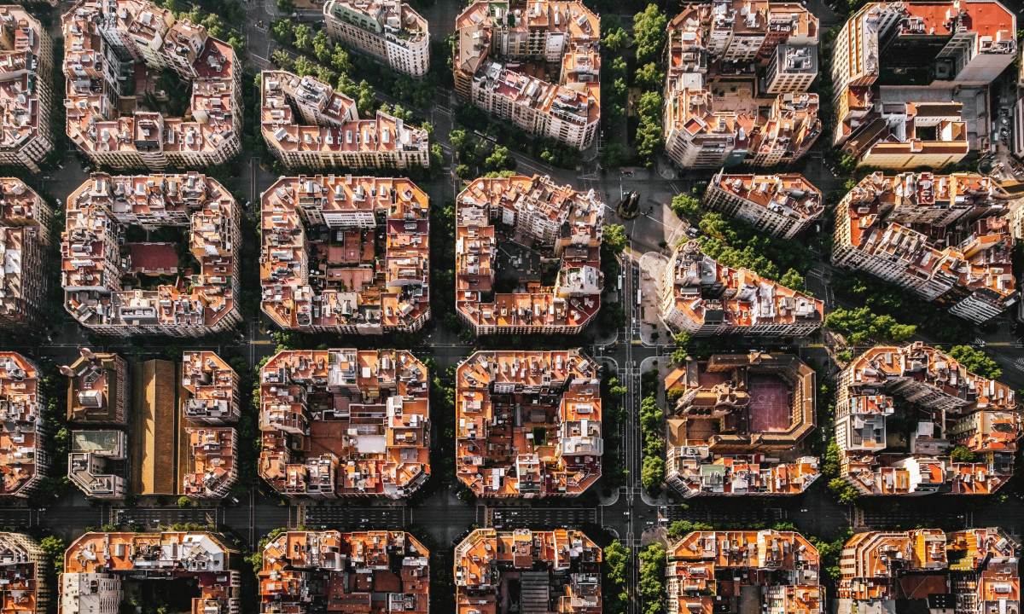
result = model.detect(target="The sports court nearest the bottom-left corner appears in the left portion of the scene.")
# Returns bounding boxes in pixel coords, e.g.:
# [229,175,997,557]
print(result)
[75,431,117,450]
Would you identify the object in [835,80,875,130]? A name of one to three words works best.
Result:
building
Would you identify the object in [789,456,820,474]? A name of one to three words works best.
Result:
building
